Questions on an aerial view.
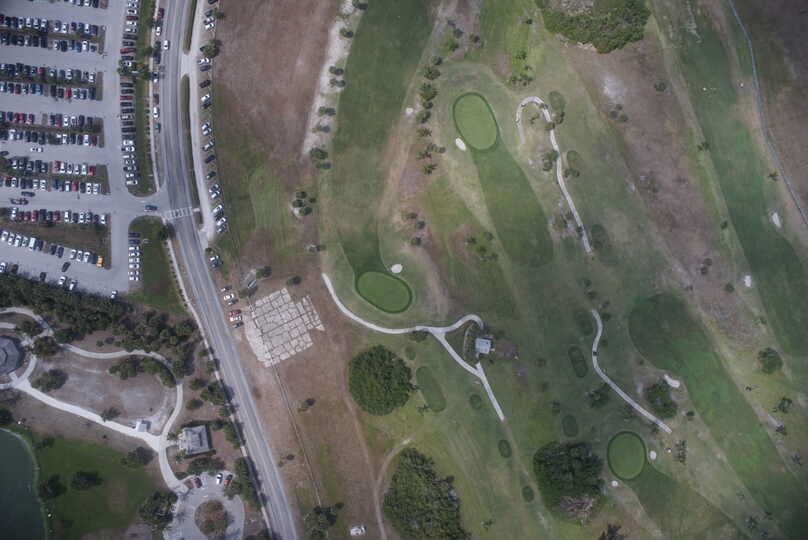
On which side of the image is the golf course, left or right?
right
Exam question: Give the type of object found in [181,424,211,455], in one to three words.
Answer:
building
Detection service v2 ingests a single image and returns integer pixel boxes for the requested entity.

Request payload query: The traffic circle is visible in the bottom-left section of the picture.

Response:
[194,501,228,538]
